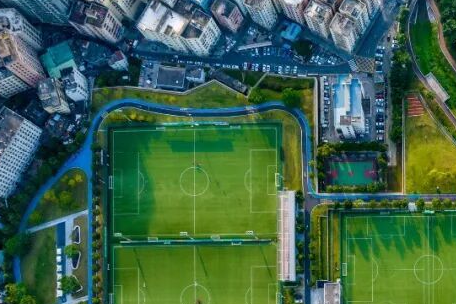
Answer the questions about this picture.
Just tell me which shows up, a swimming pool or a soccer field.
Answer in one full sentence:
Of the two, only a soccer field appears.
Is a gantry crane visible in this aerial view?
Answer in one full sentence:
No, no gantry crane is visible in the scene.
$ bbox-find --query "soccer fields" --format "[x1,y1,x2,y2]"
[343,211,456,304]
[111,244,280,304]
[111,126,280,237]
